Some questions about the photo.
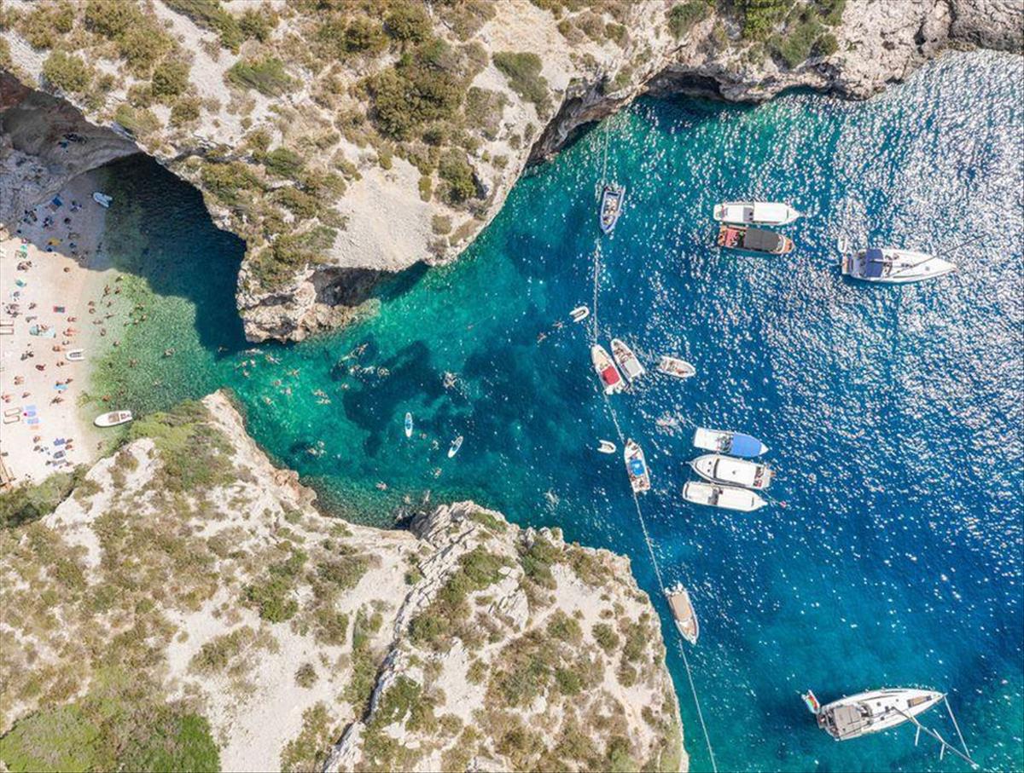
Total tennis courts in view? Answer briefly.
none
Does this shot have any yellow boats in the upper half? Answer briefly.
No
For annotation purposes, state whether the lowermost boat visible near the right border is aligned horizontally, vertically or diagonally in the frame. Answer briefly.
horizontally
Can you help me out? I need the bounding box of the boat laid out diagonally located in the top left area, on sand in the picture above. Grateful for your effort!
[93,190,116,209]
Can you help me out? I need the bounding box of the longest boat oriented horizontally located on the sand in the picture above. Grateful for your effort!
[94,408,138,425]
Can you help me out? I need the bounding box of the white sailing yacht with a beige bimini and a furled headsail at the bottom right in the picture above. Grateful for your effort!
[802,692,978,767]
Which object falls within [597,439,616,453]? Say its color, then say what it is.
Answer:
white boat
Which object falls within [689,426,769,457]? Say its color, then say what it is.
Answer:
white boat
